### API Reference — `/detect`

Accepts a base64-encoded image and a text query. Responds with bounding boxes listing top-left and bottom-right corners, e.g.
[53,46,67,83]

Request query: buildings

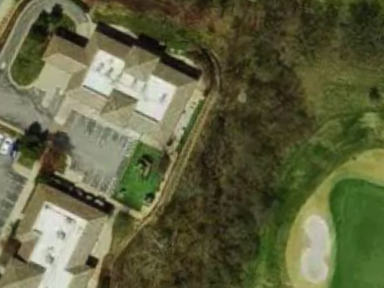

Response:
[44,28,199,152]
[0,183,110,288]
